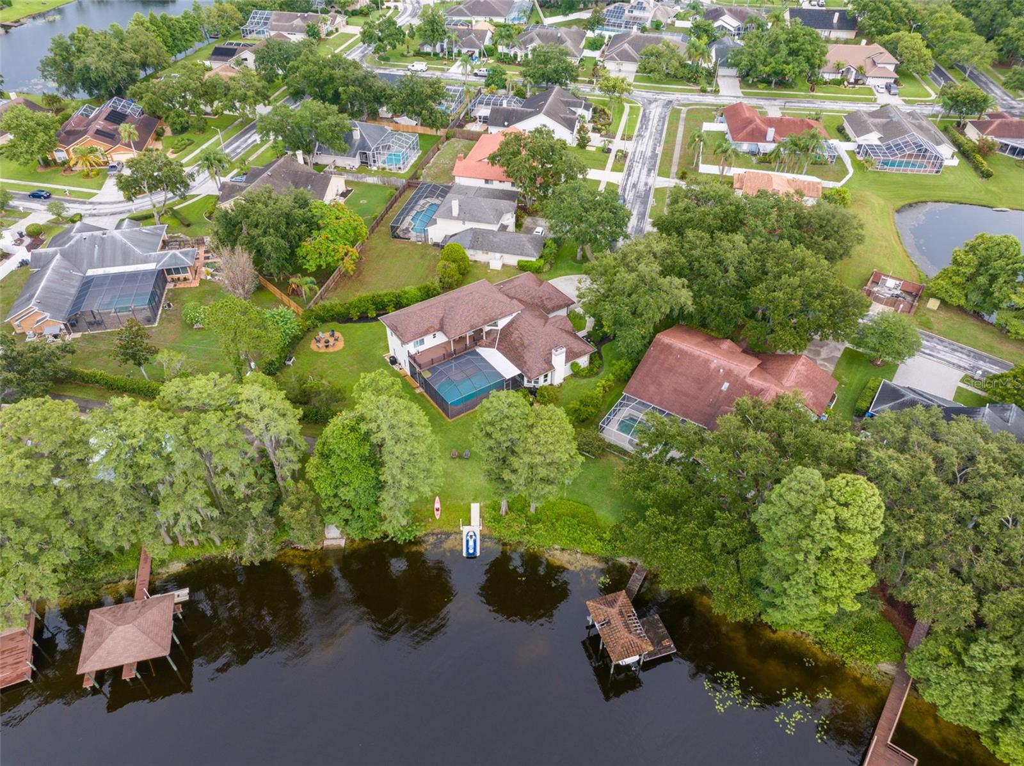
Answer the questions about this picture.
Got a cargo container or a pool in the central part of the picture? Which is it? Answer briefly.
pool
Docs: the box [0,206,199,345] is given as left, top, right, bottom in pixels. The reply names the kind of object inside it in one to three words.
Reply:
house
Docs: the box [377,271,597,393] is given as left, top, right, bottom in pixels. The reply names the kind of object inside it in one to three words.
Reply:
house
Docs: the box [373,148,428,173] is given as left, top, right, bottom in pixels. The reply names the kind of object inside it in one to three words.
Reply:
swimming pool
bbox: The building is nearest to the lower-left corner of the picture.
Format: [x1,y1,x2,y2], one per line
[75,543,190,717]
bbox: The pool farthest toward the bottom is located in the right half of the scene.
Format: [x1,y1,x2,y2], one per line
[600,407,693,461]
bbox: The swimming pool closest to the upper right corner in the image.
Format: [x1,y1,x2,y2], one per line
[862,152,943,174]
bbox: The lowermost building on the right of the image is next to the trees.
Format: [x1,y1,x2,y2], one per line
[583,562,681,693]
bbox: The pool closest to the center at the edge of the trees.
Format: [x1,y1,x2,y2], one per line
[409,355,507,420]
